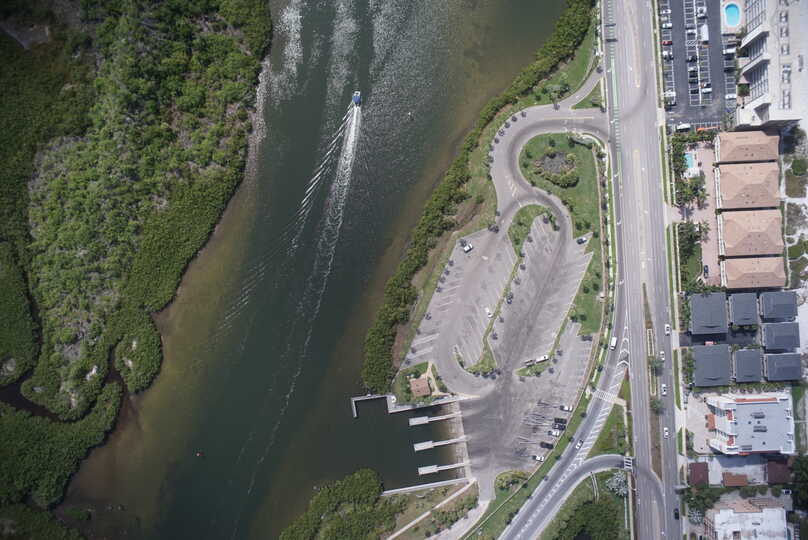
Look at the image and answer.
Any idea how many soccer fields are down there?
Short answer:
none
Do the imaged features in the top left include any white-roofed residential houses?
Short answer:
No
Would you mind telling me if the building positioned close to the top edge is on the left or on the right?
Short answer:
right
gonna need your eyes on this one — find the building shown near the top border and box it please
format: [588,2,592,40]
[735,0,802,131]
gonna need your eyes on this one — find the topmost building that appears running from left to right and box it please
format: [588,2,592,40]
[706,131,780,163]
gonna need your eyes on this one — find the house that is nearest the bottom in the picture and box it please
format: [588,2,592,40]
[701,499,787,540]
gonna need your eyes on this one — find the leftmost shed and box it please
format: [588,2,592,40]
[410,377,430,398]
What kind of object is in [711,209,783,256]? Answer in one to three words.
house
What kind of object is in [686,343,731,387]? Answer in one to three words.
house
